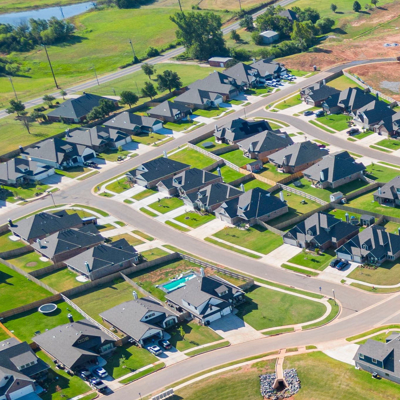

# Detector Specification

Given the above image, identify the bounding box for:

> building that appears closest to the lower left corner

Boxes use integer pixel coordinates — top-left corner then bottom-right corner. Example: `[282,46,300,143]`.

[0,341,64,400]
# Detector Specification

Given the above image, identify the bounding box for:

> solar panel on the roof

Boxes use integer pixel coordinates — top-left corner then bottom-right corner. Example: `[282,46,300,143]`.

[240,123,268,135]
